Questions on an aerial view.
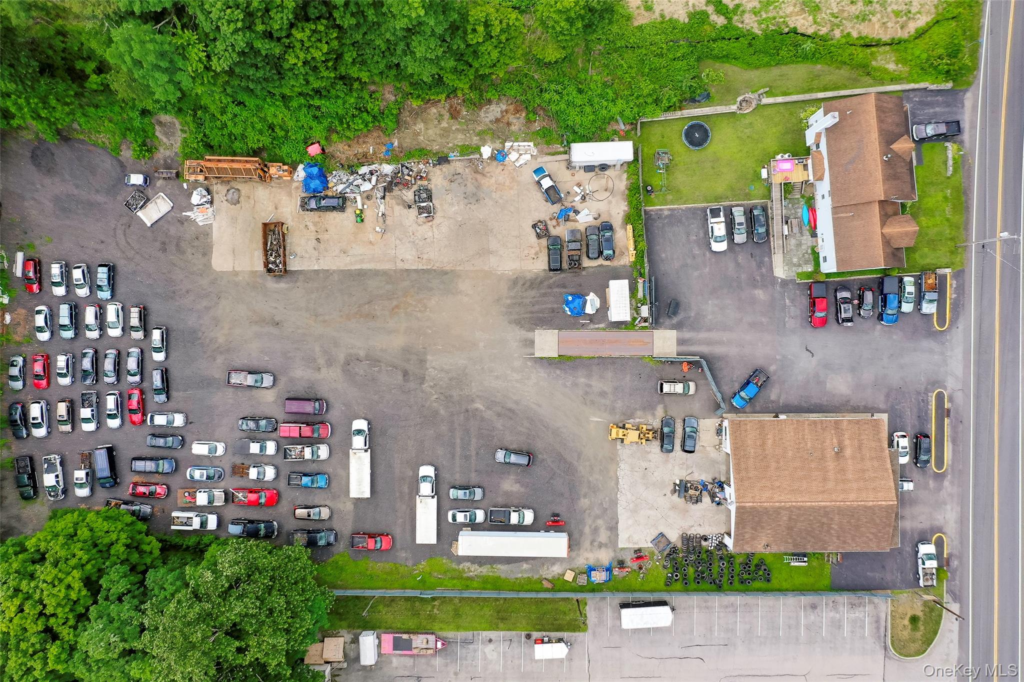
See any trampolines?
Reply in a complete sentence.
Yes, there's a trampoline here.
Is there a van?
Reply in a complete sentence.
Yes, this view includes a van.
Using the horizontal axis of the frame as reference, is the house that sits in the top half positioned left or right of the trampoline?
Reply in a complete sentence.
Compared with the trampoline, the house that sits in the top half is located further to the right.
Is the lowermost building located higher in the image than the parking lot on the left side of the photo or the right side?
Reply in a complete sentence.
The lowermost building located higher in the image than the parking lot sits on the right side.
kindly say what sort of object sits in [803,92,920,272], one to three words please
house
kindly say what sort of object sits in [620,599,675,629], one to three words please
trailer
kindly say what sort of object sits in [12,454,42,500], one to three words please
truck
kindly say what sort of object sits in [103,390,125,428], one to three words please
car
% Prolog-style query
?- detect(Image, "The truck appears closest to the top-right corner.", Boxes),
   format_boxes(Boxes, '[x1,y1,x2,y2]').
[910,118,963,143]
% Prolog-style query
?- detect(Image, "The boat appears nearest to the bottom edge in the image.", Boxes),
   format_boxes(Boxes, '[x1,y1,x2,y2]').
[582,291,602,314]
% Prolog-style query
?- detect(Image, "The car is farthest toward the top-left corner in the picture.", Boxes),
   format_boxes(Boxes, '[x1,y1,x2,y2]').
[125,171,151,188]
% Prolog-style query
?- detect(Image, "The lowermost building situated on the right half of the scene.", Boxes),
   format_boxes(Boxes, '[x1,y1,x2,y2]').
[720,418,900,553]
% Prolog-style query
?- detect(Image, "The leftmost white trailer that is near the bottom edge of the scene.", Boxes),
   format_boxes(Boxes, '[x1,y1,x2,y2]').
[359,626,381,666]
